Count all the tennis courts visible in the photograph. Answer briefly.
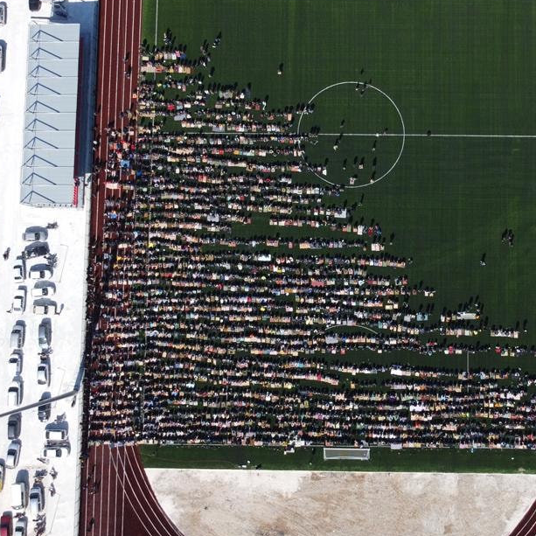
zero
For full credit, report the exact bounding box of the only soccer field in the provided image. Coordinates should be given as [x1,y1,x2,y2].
[130,0,536,477]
